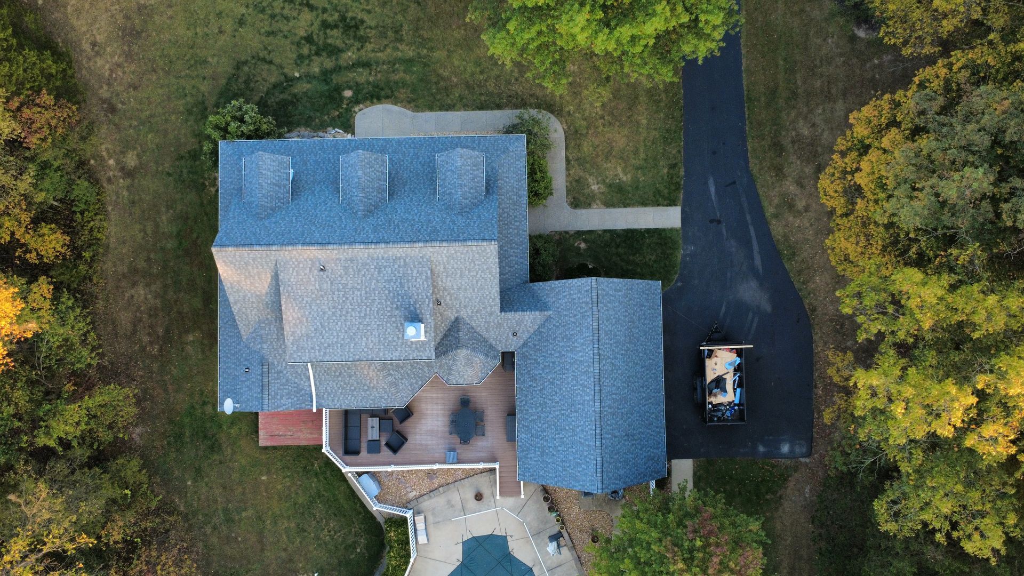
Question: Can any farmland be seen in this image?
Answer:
No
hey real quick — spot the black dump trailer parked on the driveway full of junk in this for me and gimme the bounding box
[694,318,747,425]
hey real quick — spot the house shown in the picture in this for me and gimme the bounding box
[212,133,670,492]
